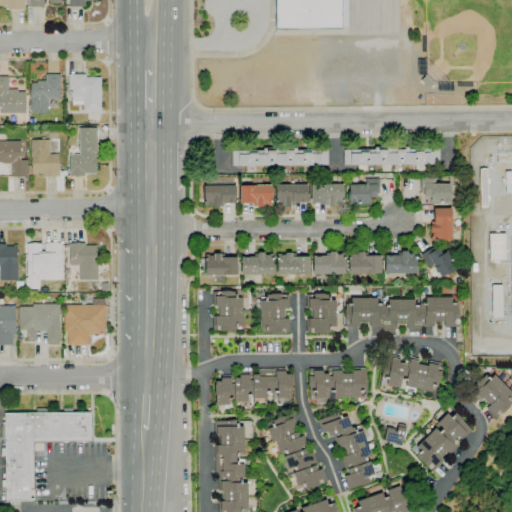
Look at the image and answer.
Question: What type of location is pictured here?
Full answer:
The area seen from above is a residential area.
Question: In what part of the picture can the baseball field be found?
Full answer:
The baseball field is located in the top right region of the scene.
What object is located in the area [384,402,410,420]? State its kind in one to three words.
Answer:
swimming pool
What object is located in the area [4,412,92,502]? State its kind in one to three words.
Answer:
building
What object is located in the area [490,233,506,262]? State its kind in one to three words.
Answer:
shed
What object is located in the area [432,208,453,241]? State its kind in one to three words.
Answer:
house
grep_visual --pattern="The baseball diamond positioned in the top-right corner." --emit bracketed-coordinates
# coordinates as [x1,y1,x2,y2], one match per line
[426,0,512,84]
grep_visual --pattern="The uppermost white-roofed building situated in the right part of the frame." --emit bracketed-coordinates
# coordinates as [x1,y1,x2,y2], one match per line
[276,0,344,28]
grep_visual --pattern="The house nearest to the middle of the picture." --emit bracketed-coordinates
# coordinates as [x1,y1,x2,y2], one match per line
[243,254,275,275]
